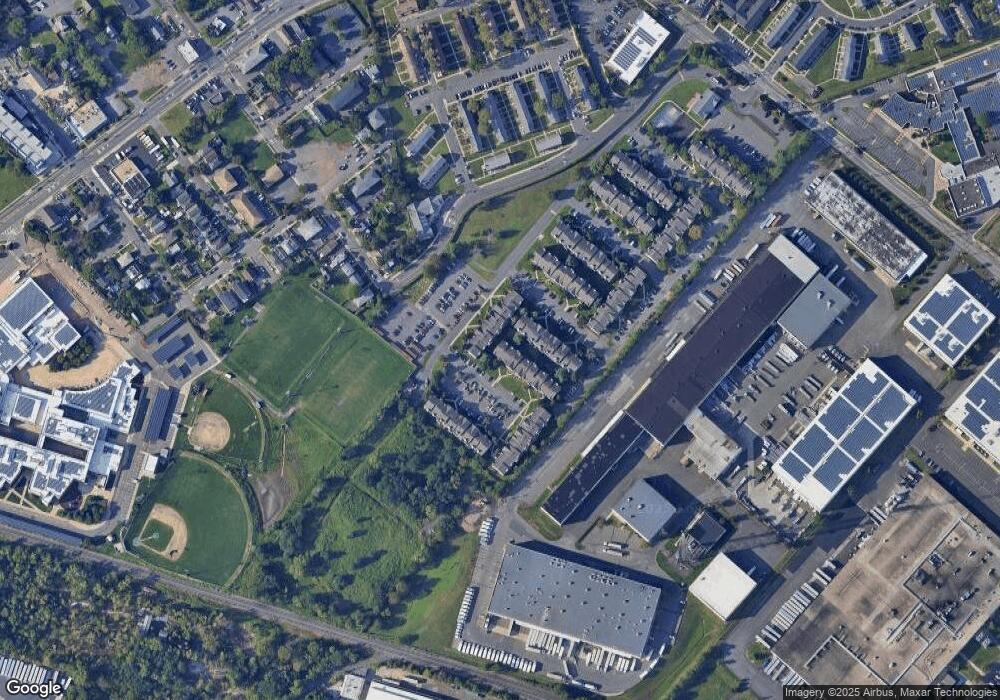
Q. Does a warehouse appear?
Yes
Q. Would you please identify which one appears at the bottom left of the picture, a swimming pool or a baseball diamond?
baseball diamond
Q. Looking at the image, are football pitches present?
Yes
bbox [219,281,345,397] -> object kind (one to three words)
soccer field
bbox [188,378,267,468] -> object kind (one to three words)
baseball field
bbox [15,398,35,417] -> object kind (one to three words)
solar array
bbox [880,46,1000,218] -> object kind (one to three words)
building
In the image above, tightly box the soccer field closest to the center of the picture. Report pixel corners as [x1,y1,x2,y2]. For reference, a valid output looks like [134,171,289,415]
[287,316,413,446]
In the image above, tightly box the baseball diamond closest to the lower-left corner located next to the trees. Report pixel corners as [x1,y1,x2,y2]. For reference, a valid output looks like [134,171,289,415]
[123,451,253,587]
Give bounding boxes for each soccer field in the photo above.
[287,316,413,446]
[219,281,345,397]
